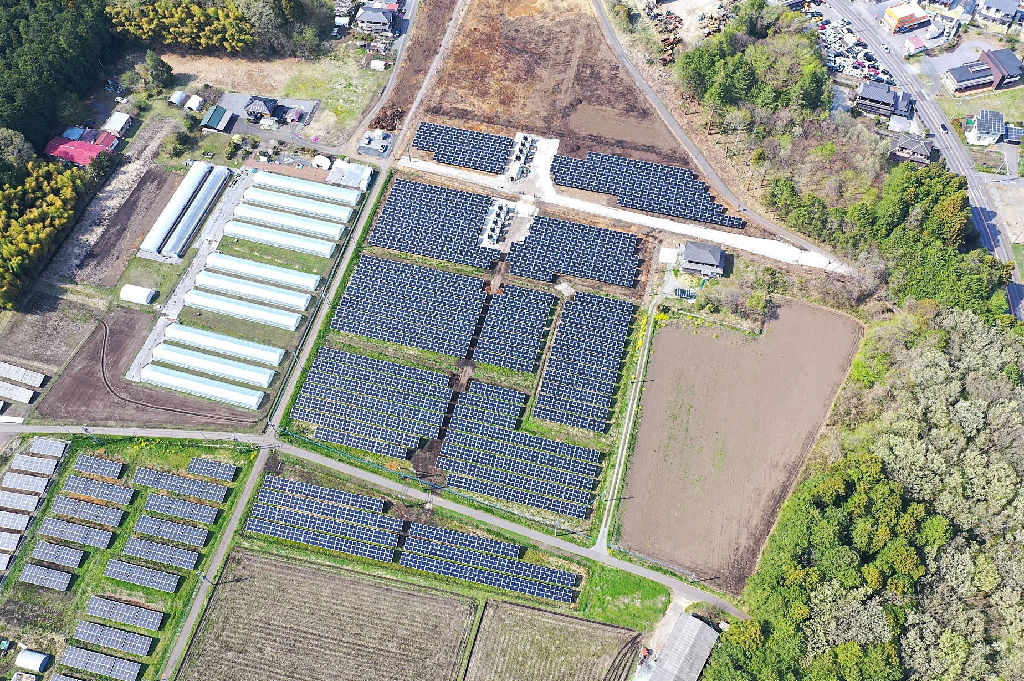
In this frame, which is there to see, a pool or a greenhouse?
greenhouse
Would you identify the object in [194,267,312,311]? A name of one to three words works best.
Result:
greenhouse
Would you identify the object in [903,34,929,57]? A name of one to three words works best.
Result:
building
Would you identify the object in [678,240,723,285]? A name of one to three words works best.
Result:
house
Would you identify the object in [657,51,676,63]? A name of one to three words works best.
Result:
vehicle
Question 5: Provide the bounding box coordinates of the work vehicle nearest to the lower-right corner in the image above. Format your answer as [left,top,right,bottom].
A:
[638,642,650,664]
